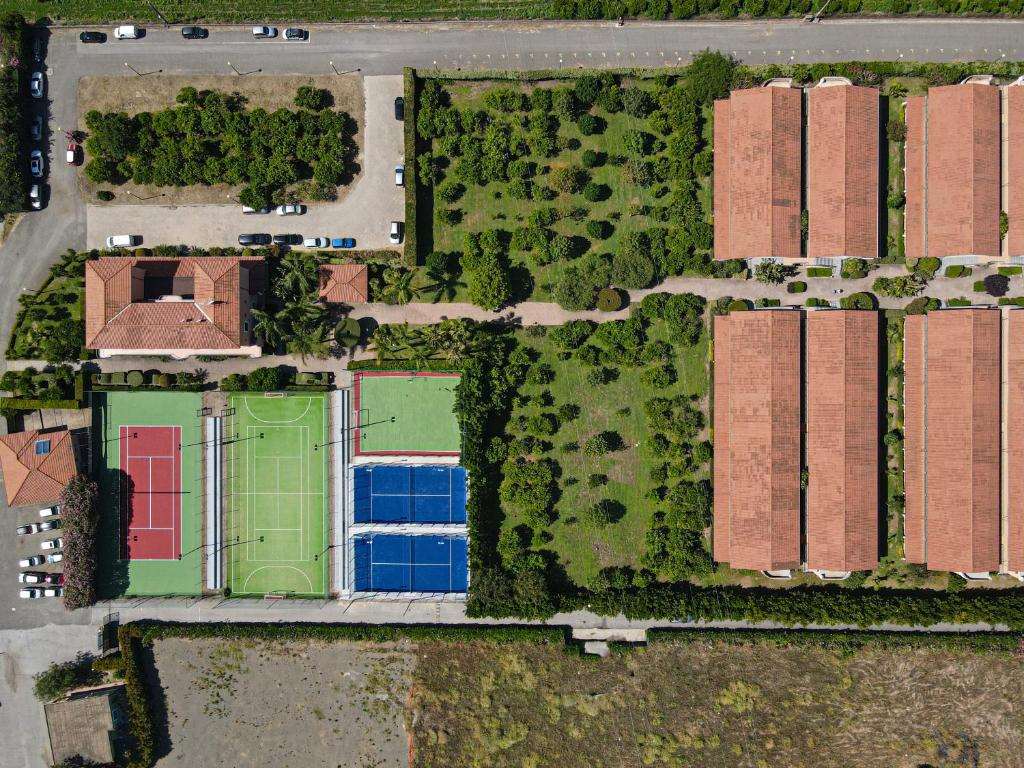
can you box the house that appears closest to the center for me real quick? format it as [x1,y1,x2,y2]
[319,264,369,303]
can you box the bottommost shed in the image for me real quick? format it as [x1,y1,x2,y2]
[45,691,121,768]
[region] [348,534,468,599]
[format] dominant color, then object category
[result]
blue sports court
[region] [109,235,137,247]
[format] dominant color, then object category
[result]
white vehicle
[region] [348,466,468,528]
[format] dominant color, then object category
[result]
blue sports court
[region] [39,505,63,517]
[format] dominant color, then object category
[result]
white vehicle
